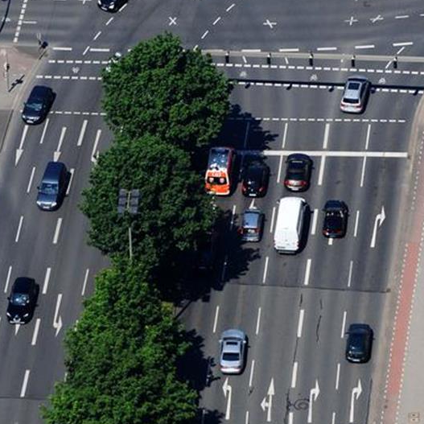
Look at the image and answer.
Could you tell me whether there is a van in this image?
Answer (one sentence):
Yes, a van can be made out from above.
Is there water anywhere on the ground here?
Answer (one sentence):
No, there is no water in the image.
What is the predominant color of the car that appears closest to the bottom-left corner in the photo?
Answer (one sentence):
The car that appears closest to the bottom-left corner looks black in the image.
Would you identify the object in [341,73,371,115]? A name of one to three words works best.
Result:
car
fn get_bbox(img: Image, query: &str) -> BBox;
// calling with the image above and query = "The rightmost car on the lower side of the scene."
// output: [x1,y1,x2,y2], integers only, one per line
[346,323,375,361]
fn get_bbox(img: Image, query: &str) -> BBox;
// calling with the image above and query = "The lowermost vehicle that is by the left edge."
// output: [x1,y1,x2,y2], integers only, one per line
[7,279,37,320]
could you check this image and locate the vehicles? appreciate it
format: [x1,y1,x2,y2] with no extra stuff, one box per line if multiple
[219,328,249,374]
[341,73,371,115]
[208,148,238,194]
[36,160,68,208]
[7,279,37,320]
[322,200,351,237]
[285,150,314,194]
[239,206,267,244]
[275,195,309,255]
[346,323,375,361]
[242,161,270,198]
[96,0,124,11]
[22,79,54,126]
